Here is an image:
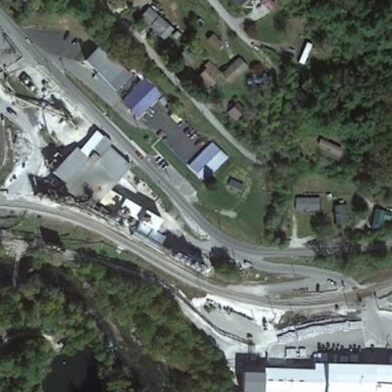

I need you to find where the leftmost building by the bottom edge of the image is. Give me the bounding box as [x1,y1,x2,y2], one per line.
[244,372,265,392]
